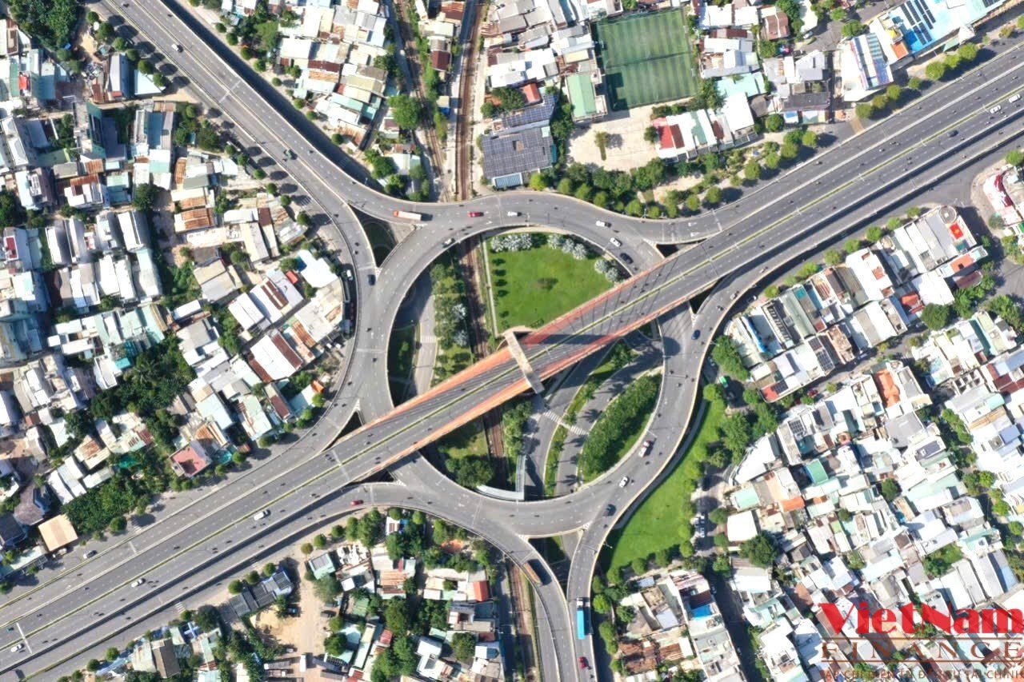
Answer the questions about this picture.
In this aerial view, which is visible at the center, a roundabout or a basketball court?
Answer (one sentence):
The one visible at the center is a roundabout.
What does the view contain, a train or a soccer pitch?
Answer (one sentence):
There is a soccer pitch in the scene.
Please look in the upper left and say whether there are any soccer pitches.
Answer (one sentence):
No, I see no soccer pitch in the upper left.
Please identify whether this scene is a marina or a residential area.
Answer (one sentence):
The picture captures a residential area.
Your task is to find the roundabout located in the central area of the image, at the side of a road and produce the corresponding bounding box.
[351,190,698,544]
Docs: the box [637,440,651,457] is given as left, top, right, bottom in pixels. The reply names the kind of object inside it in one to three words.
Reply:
vehicle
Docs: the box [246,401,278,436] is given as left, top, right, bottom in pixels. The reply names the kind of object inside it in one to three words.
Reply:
house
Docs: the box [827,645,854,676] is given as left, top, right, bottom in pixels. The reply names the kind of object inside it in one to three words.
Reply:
house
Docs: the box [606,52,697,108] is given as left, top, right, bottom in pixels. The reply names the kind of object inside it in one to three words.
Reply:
soccer field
